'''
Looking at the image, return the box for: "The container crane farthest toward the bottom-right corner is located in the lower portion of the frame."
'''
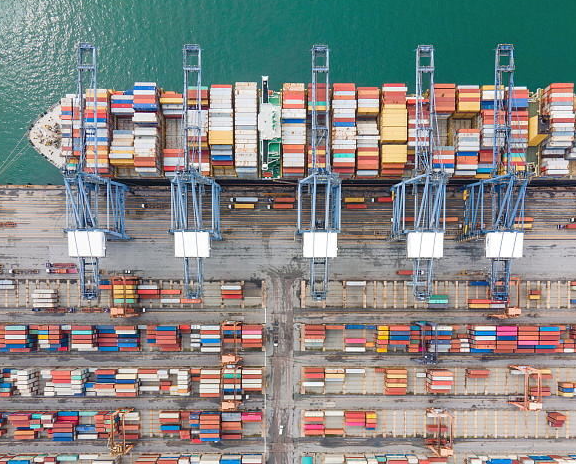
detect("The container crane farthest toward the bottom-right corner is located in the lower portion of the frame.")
[507,366,543,413]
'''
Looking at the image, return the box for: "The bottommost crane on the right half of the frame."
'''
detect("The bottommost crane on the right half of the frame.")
[425,409,456,459]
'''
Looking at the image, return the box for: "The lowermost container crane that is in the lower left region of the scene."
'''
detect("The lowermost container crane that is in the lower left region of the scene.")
[109,409,137,458]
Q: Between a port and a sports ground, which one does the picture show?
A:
port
